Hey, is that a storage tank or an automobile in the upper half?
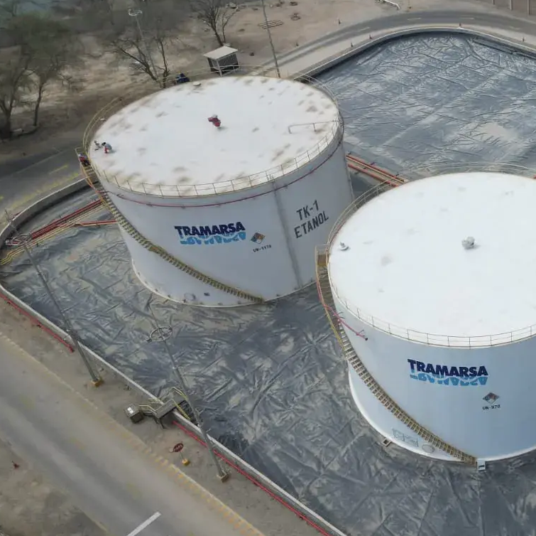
storage tank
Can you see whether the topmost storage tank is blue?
No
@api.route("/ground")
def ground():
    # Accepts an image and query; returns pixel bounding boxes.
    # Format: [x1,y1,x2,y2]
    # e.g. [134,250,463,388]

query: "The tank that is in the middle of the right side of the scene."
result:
[311,162,536,469]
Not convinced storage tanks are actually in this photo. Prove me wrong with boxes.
[72,68,358,307]
[311,162,536,469]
